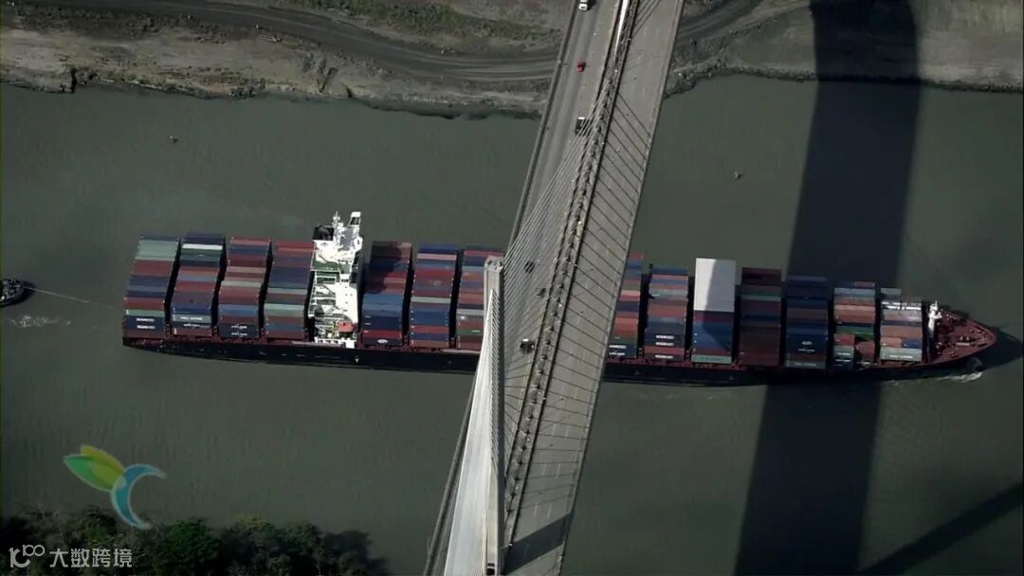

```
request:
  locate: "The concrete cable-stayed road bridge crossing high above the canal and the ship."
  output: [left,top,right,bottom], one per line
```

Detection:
[426,0,683,576]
